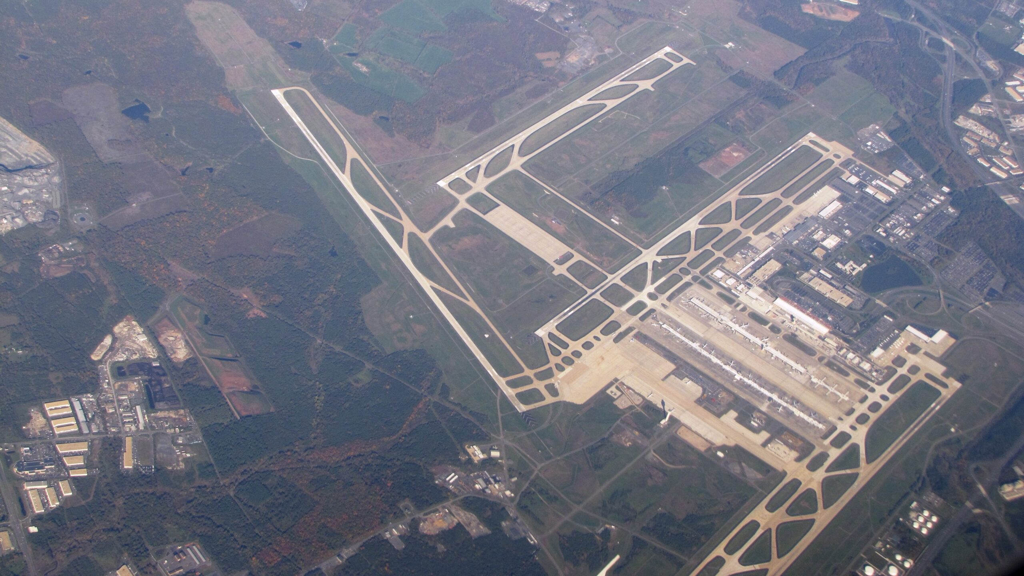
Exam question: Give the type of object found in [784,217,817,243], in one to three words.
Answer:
building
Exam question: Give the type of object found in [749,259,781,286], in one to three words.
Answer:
building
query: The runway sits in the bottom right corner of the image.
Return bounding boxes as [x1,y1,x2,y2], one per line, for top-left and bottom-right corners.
[768,380,961,576]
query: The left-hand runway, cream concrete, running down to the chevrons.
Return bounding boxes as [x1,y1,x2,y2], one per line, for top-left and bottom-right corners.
[272,90,526,412]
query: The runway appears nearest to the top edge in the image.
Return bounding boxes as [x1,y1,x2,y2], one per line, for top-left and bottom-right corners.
[437,46,671,186]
